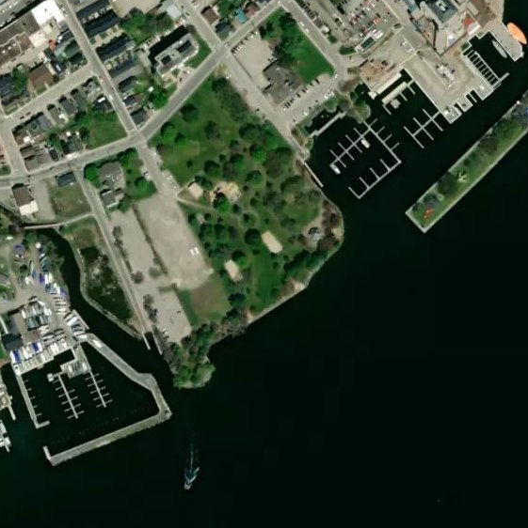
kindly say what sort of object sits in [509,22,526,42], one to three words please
ship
